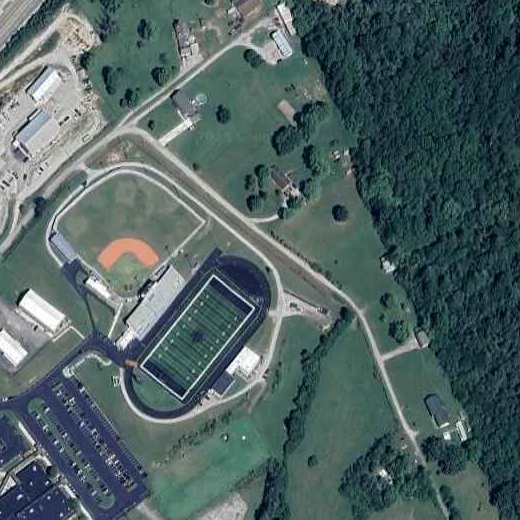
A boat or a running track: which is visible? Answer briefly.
running track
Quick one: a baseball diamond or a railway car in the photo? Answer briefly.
baseball diamond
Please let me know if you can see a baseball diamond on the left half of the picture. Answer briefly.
Yes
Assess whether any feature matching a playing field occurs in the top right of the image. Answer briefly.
No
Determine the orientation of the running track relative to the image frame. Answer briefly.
at an angle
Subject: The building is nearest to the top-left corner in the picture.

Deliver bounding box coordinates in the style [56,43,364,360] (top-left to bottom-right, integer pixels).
[26,67,61,106]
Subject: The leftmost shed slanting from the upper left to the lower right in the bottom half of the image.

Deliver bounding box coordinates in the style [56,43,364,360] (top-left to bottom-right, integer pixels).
[0,329,27,368]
